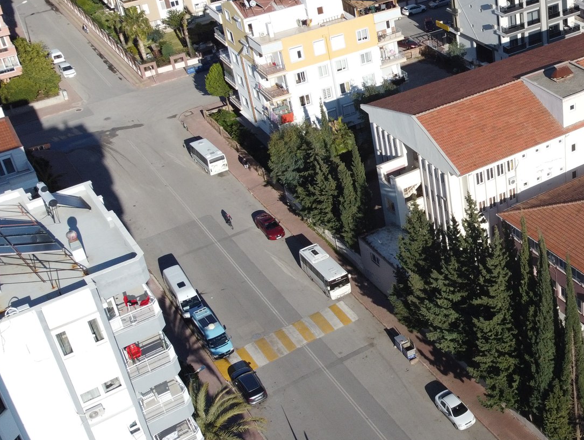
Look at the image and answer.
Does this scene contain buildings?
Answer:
Yes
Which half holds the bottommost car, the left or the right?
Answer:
right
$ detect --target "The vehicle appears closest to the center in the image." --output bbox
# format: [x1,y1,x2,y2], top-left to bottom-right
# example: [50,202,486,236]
[253,212,282,237]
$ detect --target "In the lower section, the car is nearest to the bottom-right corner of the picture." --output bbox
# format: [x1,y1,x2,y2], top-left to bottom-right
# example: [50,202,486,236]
[432,385,474,425]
